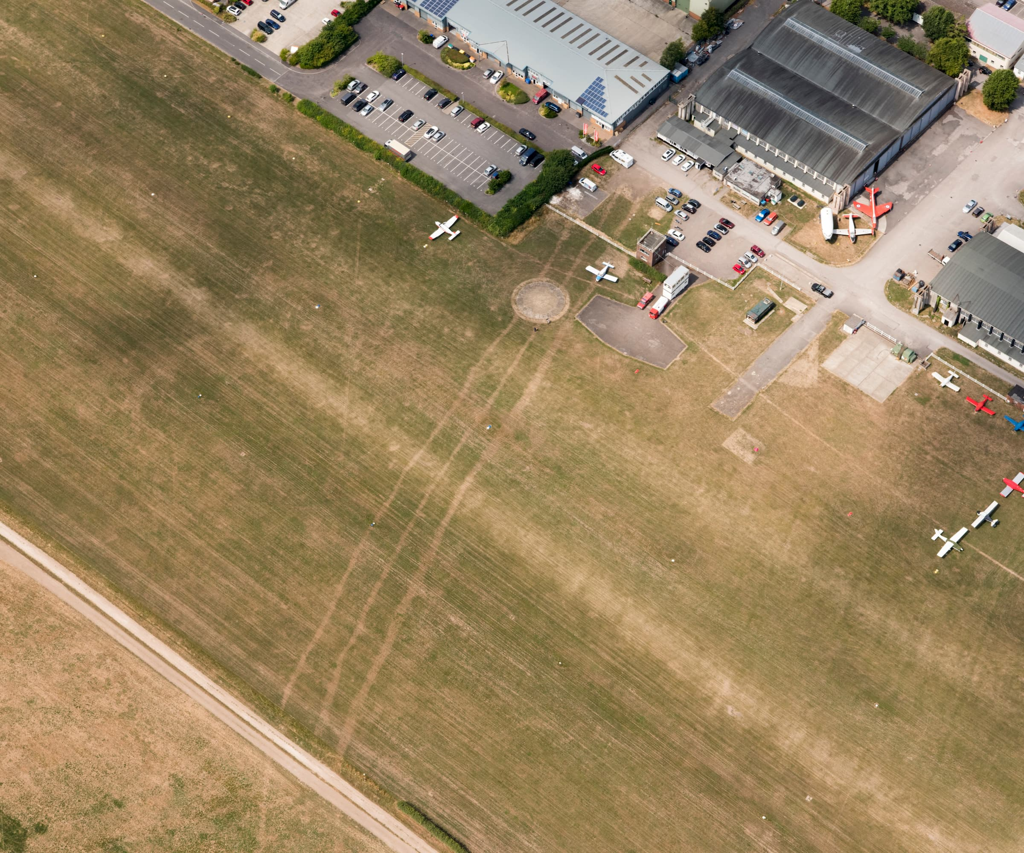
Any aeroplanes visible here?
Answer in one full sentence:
Yes, you can see an aeroplane in this photo.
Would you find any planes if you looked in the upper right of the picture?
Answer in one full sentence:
Yes, a plane can be seen in the upper right of the picture.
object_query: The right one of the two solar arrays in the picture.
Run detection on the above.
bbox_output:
[576,73,610,117]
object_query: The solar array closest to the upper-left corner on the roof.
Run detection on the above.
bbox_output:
[410,0,460,20]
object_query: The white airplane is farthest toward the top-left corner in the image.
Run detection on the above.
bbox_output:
[431,214,461,239]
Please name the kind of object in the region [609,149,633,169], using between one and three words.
camper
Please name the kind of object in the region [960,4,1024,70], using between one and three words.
building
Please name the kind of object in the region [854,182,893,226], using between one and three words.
airplane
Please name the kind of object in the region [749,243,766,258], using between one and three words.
car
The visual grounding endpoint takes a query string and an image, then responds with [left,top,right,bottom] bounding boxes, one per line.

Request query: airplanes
[854,182,893,226]
[964,390,997,416]
[932,527,969,558]
[1003,411,1024,434]
[431,214,461,239]
[584,260,619,283]
[931,366,963,392]
[973,500,1004,531]
[833,211,873,242]
[1000,472,1024,498]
